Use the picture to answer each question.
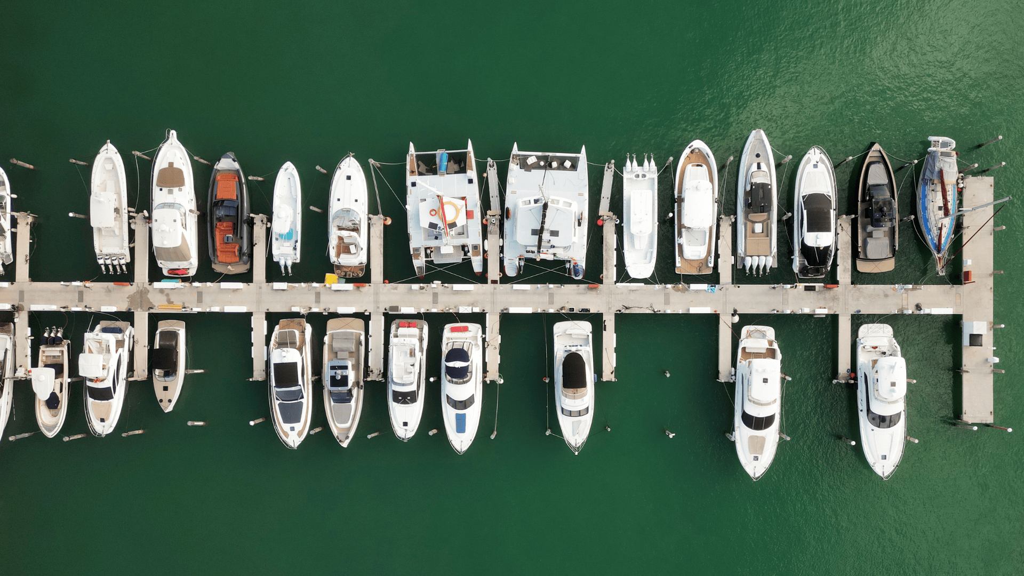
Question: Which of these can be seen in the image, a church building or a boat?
boat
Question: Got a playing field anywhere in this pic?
No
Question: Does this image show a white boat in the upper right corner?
Yes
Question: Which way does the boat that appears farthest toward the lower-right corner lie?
up and down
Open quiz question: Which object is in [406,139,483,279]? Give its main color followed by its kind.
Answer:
white boat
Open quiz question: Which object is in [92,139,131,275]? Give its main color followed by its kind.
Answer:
white boat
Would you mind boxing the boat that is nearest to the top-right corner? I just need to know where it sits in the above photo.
[928,135,960,152]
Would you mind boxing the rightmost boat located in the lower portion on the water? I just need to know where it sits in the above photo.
[854,323,906,480]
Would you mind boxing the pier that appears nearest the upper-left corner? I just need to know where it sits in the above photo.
[14,215,35,283]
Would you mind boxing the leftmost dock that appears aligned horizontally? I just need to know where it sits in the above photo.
[0,283,963,314]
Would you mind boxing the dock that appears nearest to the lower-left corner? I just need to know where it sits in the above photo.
[14,311,34,378]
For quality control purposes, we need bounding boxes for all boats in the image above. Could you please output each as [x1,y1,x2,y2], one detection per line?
[674,139,717,274]
[152,130,201,277]
[326,152,369,278]
[854,142,897,273]
[432,245,464,263]
[388,319,429,442]
[266,160,302,277]
[854,323,906,480]
[441,323,483,456]
[799,270,828,279]
[324,318,367,448]
[0,168,17,266]
[0,322,17,438]
[406,139,483,279]
[791,145,836,278]
[735,325,781,482]
[270,319,316,450]
[920,151,1012,275]
[92,139,131,275]
[31,325,73,438]
[152,320,189,413]
[623,152,658,278]
[504,142,588,280]
[210,151,253,274]
[79,315,139,437]
[928,135,960,152]
[737,127,778,277]
[555,321,597,453]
